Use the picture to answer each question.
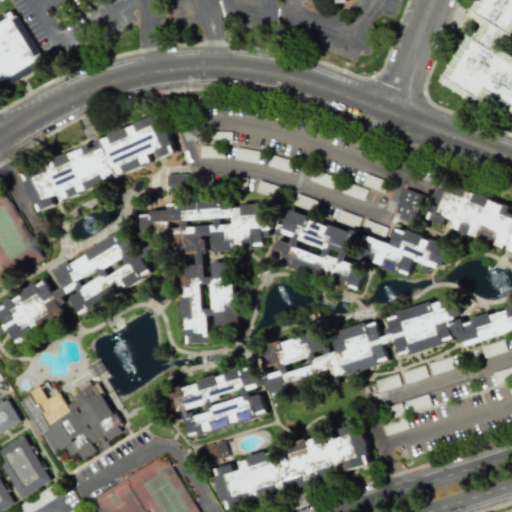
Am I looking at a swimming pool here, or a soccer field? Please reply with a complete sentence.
Looking from above, you can make out a swimming pool.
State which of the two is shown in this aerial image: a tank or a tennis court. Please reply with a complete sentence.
The image shows a tennis court.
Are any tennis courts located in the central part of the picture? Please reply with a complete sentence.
No, I see no tennis court in the central part of the picture.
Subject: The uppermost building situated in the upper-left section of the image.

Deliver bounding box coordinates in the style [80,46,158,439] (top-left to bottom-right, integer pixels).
[0,11,41,88]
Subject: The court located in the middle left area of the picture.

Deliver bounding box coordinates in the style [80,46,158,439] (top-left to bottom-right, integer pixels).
[0,194,40,272]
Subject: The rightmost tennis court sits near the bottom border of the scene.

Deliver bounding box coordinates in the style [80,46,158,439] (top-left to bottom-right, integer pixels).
[128,459,192,512]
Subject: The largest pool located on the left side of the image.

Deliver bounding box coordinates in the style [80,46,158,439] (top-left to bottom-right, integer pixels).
[39,341,82,376]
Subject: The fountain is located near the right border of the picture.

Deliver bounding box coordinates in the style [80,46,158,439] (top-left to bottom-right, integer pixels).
[486,263,512,298]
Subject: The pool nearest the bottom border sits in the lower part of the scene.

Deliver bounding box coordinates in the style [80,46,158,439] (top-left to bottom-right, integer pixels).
[239,435,264,452]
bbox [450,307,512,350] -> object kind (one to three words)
building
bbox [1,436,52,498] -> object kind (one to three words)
house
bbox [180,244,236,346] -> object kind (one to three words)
building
